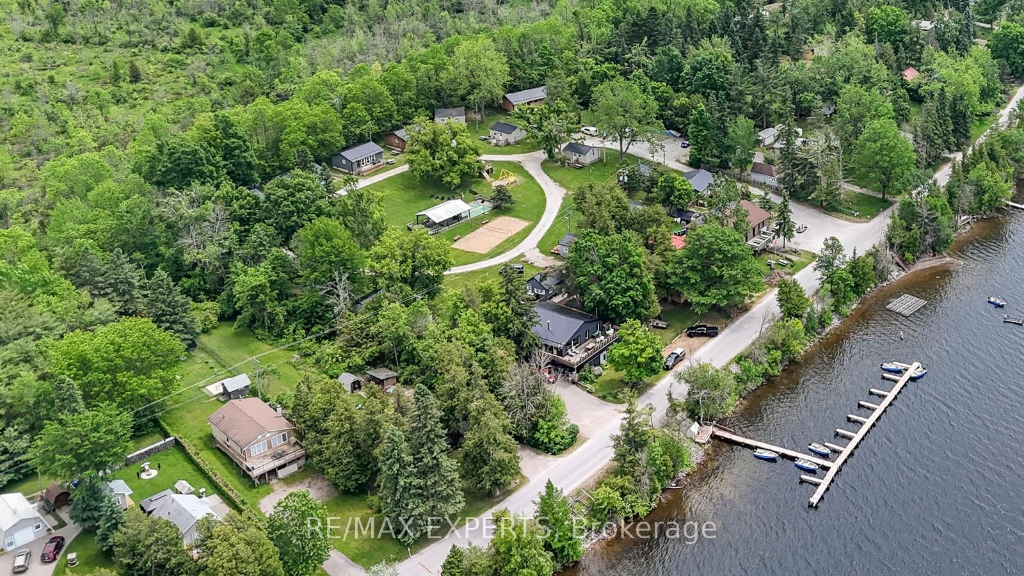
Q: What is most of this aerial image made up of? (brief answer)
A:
trees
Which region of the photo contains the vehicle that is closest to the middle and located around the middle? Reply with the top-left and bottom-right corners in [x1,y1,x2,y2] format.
[504,259,535,274]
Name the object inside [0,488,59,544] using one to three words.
building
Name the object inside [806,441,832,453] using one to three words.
boat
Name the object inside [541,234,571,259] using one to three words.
house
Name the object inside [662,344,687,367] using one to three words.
truck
